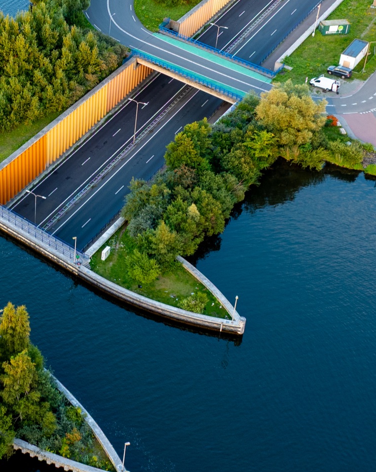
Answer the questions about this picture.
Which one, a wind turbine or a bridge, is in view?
bridge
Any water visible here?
Yes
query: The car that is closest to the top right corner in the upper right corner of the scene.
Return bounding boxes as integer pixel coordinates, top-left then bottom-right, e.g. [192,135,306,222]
[326,66,353,78]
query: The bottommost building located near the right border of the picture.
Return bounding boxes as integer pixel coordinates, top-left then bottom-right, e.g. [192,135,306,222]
[340,34,371,68]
